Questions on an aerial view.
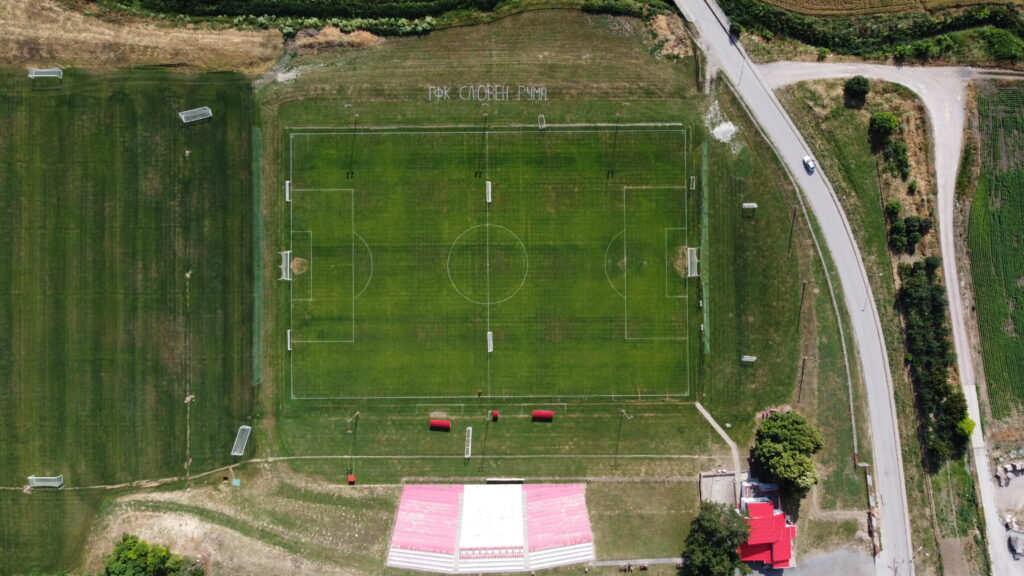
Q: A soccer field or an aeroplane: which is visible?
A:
soccer field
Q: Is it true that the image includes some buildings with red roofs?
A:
Yes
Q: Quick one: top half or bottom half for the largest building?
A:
bottom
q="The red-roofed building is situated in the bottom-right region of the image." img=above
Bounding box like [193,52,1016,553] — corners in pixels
[735,478,796,567]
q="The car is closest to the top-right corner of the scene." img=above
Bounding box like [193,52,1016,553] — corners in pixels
[803,156,816,171]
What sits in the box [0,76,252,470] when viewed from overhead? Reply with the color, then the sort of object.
green sports field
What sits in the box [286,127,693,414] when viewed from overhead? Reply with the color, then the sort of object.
green soccer field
